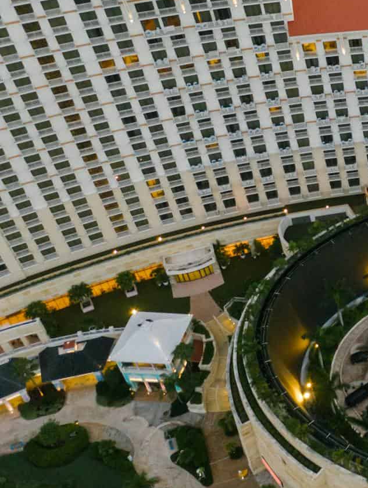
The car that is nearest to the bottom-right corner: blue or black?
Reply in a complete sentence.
The color of the car that is nearest to the bottom-right corner is black.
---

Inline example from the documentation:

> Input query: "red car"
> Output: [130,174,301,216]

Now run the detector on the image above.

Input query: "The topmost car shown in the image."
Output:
[347,348,368,363]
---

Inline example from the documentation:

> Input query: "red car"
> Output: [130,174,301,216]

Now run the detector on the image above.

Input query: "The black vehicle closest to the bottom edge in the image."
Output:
[343,383,368,407]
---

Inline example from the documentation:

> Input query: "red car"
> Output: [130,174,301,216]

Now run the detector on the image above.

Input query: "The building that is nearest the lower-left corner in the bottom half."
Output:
[0,359,42,418]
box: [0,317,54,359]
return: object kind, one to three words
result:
house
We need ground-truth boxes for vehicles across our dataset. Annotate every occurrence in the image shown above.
[347,348,368,363]
[343,383,368,407]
